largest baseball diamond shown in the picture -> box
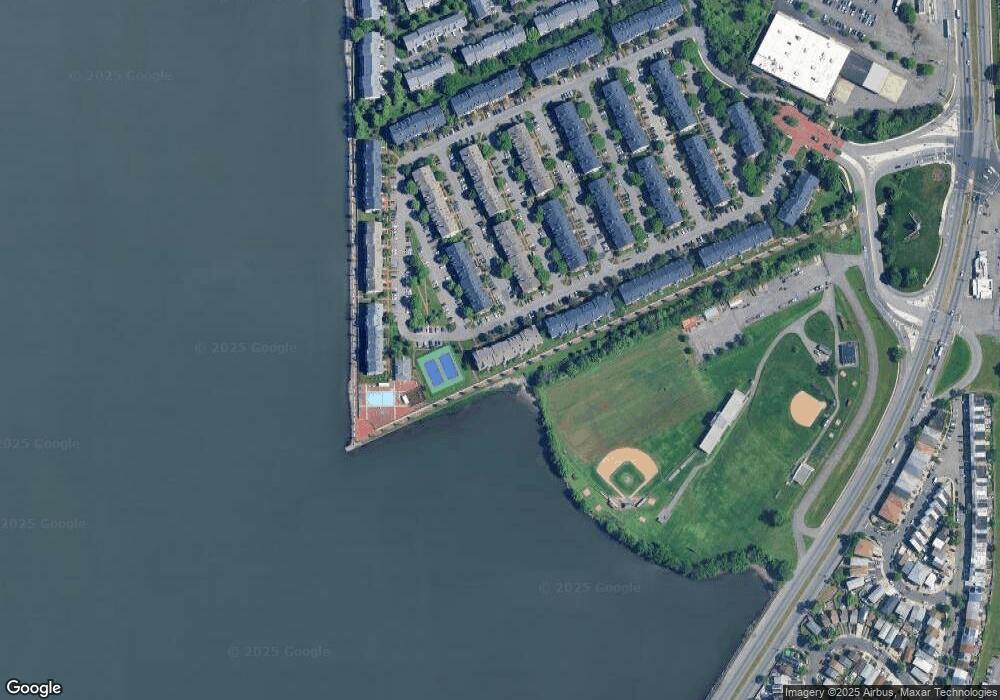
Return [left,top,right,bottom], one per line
[550,342,704,510]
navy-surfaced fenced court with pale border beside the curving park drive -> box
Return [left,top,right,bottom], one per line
[838,341,858,367]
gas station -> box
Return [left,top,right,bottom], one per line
[973,251,992,299]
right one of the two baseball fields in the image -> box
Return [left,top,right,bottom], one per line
[790,390,826,428]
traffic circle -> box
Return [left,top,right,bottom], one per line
[836,80,1000,374]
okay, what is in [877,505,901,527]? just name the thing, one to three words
house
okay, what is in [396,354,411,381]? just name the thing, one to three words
building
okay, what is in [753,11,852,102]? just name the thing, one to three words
building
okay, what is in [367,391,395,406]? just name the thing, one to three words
swimming pool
